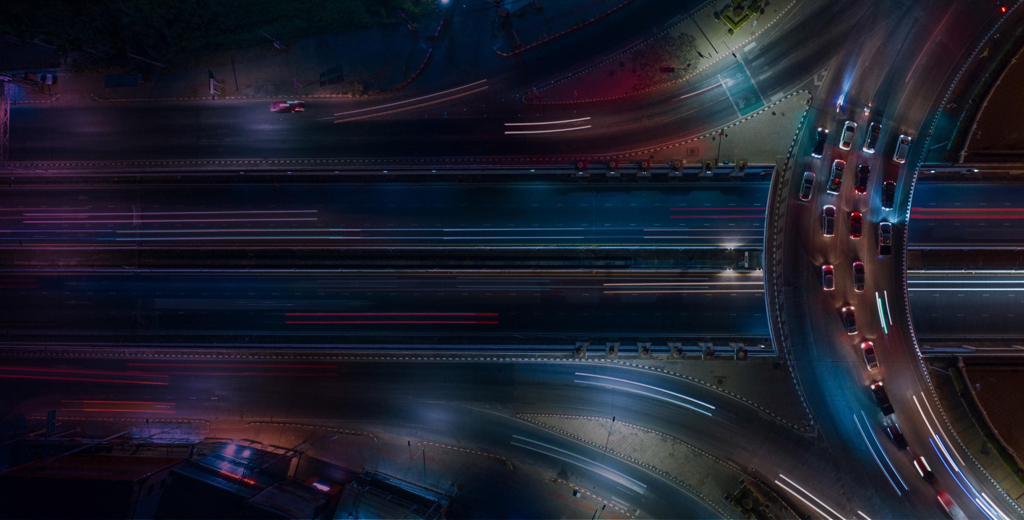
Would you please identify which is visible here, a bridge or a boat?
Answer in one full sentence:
It is a bridge that can be seen here.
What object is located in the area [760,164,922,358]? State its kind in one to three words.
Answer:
bridge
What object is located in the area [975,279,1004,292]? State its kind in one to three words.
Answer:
vehicle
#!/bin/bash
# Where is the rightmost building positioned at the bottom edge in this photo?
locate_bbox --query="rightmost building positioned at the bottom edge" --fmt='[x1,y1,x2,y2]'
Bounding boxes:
[337,464,454,520]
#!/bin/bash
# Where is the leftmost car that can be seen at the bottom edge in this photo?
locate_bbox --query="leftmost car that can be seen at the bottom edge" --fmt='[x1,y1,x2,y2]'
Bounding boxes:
[621,472,650,495]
